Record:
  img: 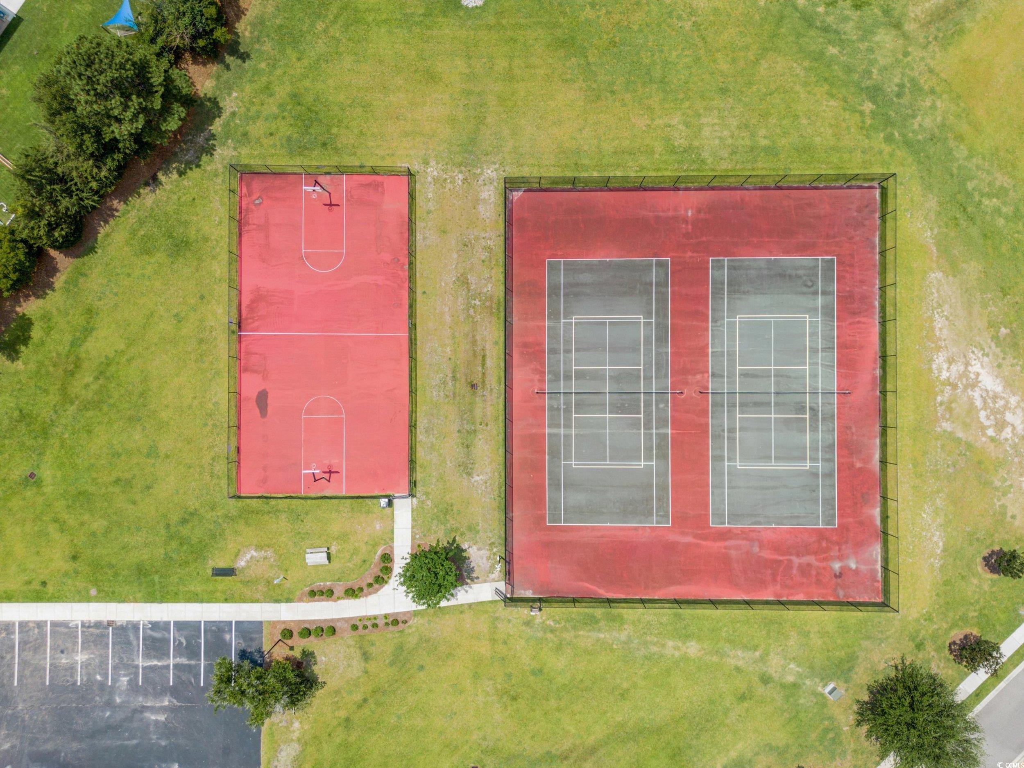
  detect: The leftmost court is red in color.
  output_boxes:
[236,171,410,495]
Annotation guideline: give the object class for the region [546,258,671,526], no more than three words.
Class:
tennis court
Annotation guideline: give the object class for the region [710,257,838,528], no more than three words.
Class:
tennis court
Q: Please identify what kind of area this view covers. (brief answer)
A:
sports ground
